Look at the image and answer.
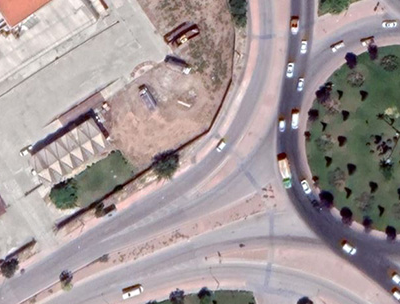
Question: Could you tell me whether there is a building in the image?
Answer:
Yes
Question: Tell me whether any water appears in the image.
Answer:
No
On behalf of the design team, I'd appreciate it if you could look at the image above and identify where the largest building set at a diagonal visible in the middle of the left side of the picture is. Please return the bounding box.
[32,114,109,184]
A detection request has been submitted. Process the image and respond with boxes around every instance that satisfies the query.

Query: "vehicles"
[301,179,311,194]
[342,242,357,254]
[392,290,400,300]
[301,40,308,54]
[291,17,298,33]
[287,62,294,76]
[278,119,285,131]
[382,20,397,27]
[277,155,292,190]
[137,83,156,111]
[297,76,305,91]
[360,38,374,46]
[120,285,143,299]
[101,205,118,217]
[331,42,344,52]
[215,139,227,152]
[392,274,400,284]
[292,110,299,126]
[92,209,106,221]
[164,58,187,75]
